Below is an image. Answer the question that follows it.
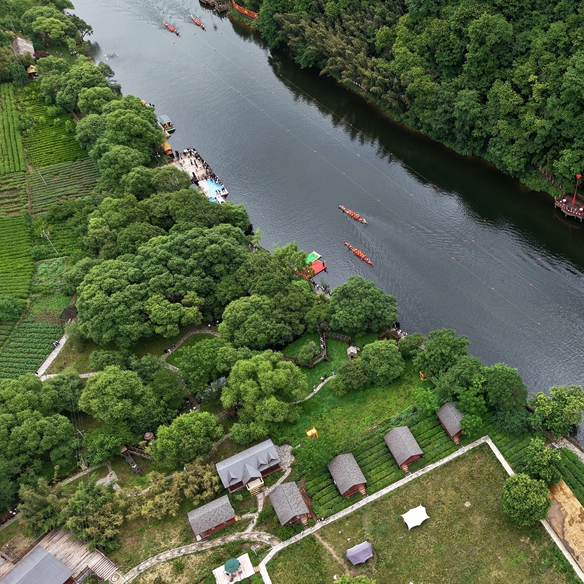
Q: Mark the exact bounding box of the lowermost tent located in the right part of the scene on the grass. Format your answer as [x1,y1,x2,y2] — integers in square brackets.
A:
[346,541,376,568]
